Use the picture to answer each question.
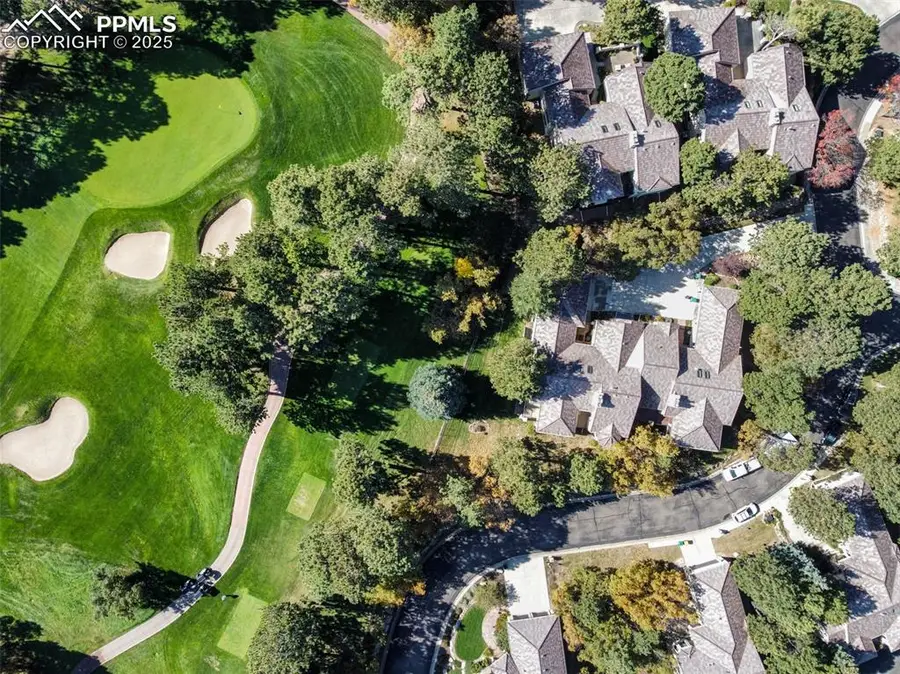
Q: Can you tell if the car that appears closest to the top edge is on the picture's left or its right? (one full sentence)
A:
It is on the right.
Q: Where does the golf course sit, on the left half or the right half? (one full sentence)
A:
It is on the left.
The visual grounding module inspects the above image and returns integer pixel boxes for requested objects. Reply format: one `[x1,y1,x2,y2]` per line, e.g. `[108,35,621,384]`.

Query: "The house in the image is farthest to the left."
[483,611,569,674]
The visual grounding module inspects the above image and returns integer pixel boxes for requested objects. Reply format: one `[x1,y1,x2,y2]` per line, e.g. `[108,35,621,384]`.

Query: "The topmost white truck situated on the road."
[722,457,762,483]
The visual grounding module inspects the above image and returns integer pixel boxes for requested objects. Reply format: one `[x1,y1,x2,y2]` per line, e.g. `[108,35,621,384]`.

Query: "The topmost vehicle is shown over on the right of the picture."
[835,382,859,413]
